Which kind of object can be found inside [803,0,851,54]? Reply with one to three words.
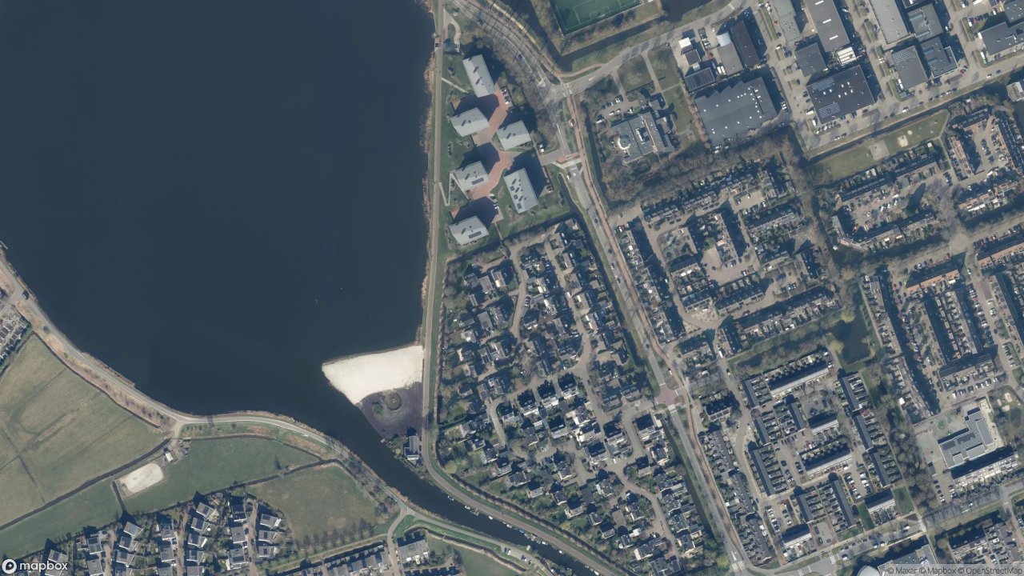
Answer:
building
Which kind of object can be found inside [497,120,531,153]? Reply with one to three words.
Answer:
building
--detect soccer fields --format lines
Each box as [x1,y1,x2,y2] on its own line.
[550,0,643,36]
